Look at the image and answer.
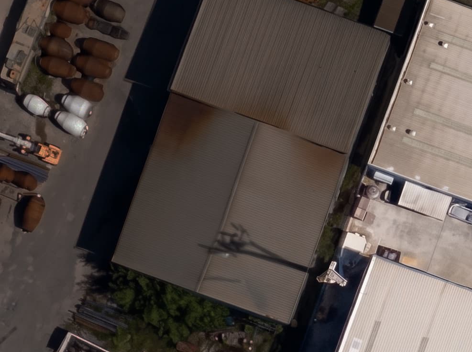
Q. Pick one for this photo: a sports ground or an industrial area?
industrial area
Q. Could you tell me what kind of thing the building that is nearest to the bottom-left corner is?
warehouse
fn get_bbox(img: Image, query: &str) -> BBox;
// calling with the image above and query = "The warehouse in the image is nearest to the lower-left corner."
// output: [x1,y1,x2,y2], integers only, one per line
[111,92,352,324]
